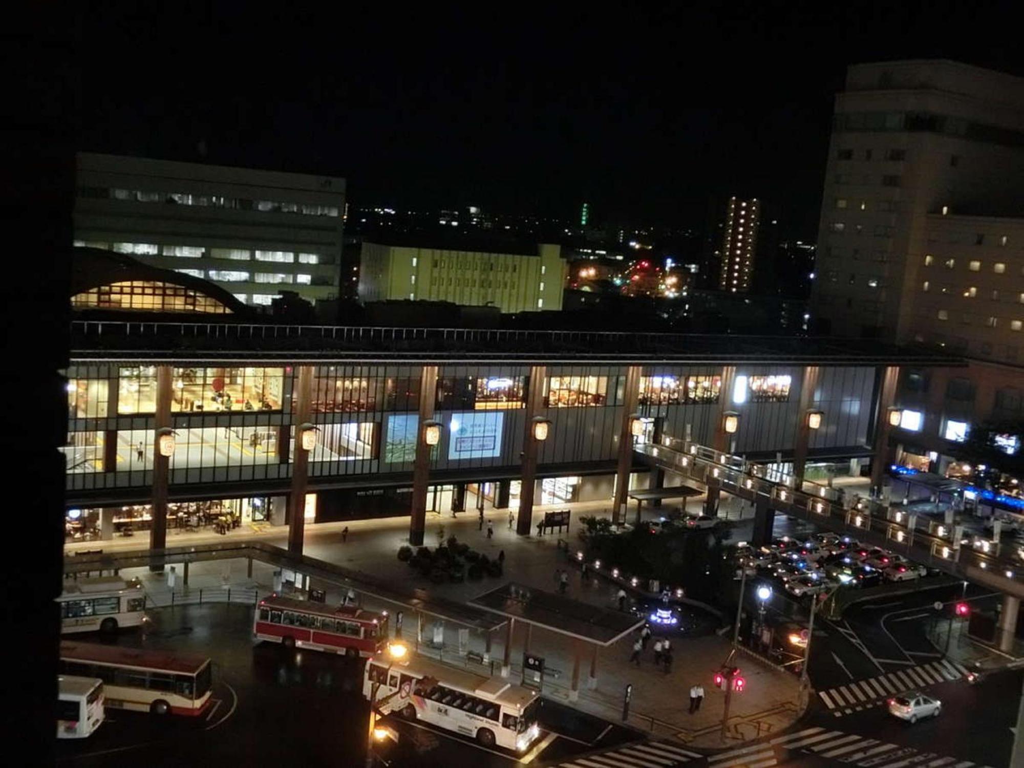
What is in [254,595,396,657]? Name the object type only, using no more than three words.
bus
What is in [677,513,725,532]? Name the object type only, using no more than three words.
car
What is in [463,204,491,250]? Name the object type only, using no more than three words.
building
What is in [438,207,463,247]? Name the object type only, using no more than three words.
building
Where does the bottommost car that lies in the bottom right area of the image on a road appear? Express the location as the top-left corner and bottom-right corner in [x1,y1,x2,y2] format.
[883,687,944,721]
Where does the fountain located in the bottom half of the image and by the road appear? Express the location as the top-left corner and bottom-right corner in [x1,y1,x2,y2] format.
[615,592,729,640]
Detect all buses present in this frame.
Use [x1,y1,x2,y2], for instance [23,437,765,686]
[60,640,217,714]
[254,595,396,657]
[58,580,153,637]
[59,675,100,737]
[360,638,547,748]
